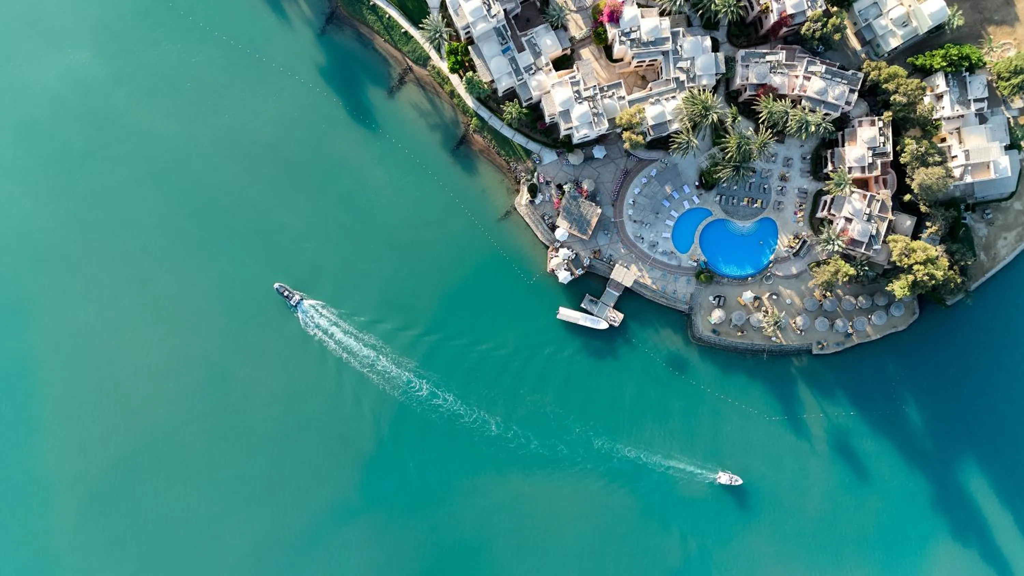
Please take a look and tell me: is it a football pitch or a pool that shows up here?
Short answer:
pool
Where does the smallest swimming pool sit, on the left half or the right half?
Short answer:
right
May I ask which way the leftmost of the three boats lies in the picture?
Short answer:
at an angle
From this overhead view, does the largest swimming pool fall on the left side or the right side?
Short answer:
right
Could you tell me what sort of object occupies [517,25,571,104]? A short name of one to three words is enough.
house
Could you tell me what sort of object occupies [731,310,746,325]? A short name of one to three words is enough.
umbrella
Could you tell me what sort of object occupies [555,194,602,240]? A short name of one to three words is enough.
building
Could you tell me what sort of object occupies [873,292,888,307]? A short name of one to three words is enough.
umbrella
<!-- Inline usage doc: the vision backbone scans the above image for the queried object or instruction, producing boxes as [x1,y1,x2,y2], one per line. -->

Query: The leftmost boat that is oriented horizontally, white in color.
[556,306,609,329]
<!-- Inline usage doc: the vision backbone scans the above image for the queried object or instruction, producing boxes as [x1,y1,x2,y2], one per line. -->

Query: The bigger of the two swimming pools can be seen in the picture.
[698,215,780,279]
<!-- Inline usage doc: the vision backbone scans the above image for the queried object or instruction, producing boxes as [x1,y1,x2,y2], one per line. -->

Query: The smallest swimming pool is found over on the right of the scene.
[670,206,714,255]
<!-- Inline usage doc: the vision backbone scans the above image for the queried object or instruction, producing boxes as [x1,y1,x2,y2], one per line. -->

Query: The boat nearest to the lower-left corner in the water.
[273,285,299,305]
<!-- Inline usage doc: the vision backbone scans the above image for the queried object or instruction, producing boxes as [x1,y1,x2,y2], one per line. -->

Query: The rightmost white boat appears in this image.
[716,472,743,486]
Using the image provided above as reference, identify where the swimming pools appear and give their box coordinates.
[670,206,714,255]
[698,215,780,279]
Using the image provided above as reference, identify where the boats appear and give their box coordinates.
[273,285,299,305]
[556,306,609,329]
[716,472,743,486]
